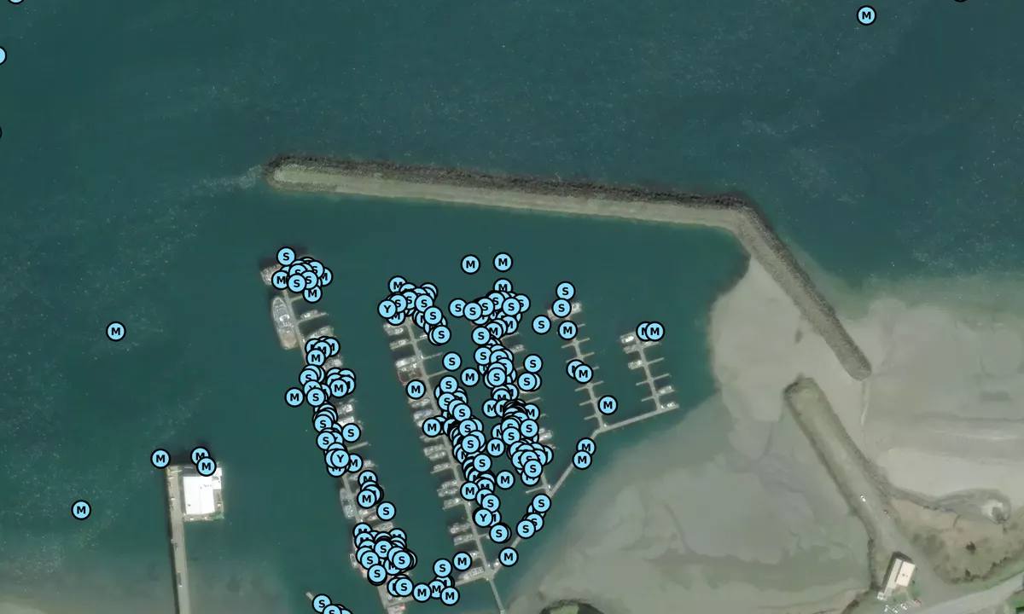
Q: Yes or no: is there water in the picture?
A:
Yes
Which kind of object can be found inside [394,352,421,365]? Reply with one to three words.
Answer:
boat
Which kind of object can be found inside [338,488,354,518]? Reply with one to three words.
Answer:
boat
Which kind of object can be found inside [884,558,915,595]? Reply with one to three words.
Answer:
building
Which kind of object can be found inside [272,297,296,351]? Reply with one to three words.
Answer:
ship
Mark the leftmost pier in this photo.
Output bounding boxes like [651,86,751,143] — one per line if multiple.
[166,466,224,614]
